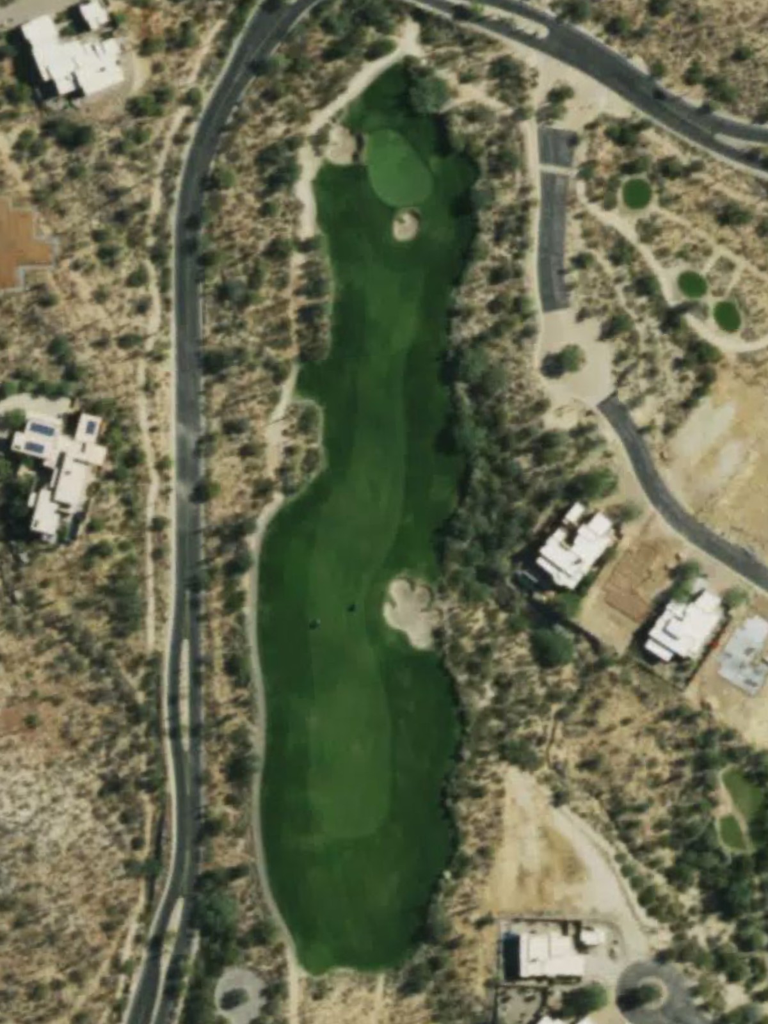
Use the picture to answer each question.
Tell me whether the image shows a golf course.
Yes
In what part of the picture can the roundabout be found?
bottom right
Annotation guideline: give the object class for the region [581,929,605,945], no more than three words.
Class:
house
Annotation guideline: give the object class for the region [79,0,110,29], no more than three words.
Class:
house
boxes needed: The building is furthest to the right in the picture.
[645,587,730,662]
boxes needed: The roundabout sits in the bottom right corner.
[615,959,713,1024]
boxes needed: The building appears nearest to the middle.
[536,502,618,592]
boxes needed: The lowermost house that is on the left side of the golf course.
[10,412,108,543]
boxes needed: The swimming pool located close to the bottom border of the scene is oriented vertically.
[502,929,519,981]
